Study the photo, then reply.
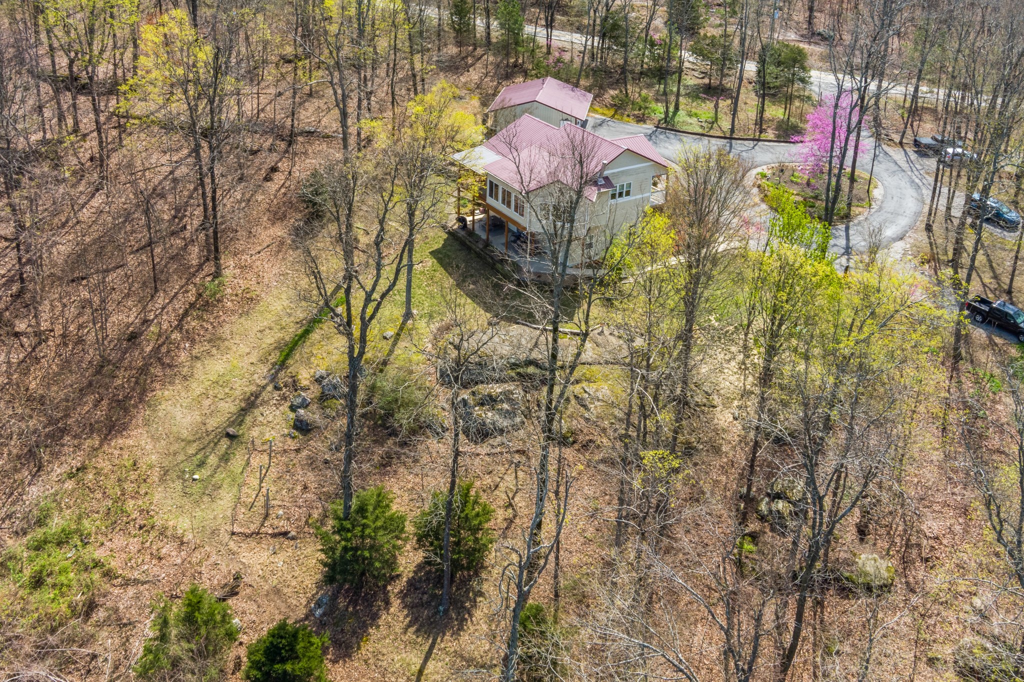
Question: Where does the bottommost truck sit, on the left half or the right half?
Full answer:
It is on the right.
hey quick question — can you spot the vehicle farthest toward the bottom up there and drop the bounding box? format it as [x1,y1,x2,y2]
[962,290,1024,337]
